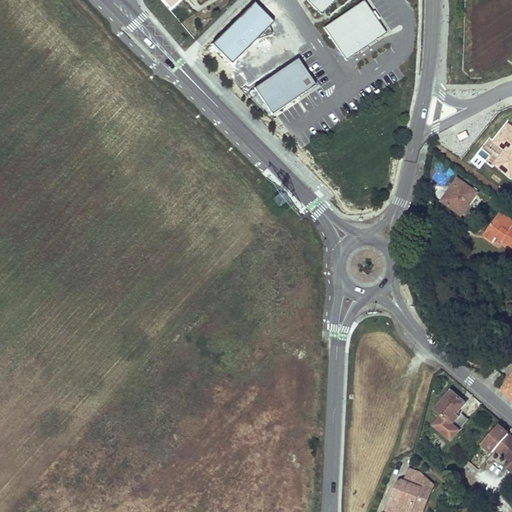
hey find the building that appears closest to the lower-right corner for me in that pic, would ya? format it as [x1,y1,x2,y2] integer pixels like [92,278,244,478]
[480,424,512,473]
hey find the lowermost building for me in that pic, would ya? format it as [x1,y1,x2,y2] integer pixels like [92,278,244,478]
[384,468,434,512]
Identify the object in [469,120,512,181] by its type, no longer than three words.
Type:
house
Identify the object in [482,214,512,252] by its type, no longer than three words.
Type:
house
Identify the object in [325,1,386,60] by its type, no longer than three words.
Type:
building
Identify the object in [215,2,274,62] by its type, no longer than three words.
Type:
building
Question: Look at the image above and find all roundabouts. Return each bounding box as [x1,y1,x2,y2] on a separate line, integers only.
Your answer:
[338,238,396,296]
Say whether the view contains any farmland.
Yes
